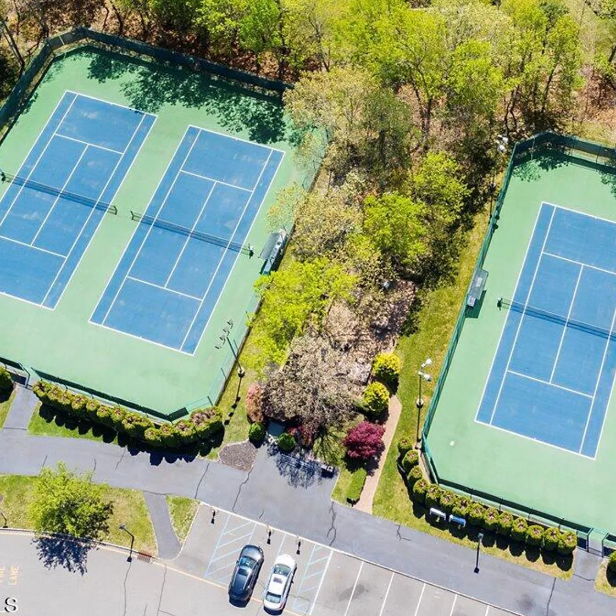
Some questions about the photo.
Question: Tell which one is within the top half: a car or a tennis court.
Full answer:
The one visible within the top half is a tennis court.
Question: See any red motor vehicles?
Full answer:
No, there is no red motor vehicle in the image.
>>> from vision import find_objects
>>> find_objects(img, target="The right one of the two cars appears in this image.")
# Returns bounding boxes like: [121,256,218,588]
[263,555,295,614]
